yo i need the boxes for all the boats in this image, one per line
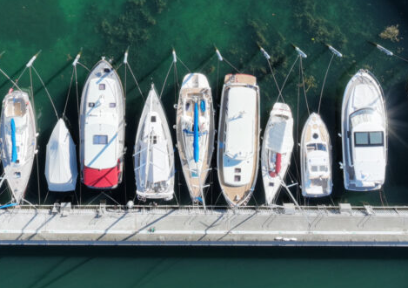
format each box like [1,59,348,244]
[295,57,341,197]
[213,61,264,215]
[173,63,217,214]
[75,54,129,212]
[336,65,388,205]
[0,67,41,209]
[259,58,308,228]
[29,67,79,204]
[126,63,176,206]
